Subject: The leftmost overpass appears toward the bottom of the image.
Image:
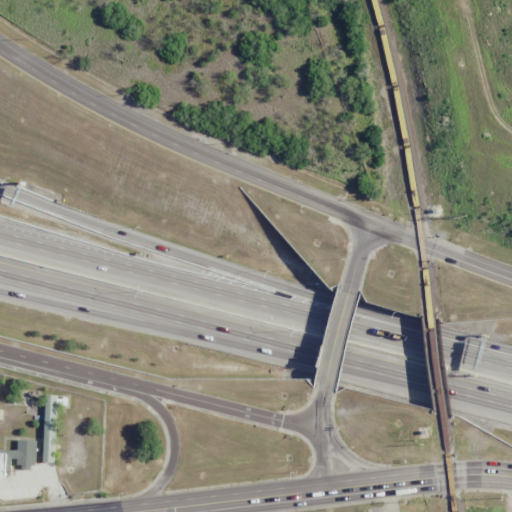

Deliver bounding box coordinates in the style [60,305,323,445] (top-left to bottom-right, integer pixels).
[313,288,360,394]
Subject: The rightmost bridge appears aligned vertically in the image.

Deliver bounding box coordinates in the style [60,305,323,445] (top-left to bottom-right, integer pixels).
[420,314,454,421]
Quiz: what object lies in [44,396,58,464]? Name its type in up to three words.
building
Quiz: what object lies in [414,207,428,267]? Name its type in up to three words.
rail car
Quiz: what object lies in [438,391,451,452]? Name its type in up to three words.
rail car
